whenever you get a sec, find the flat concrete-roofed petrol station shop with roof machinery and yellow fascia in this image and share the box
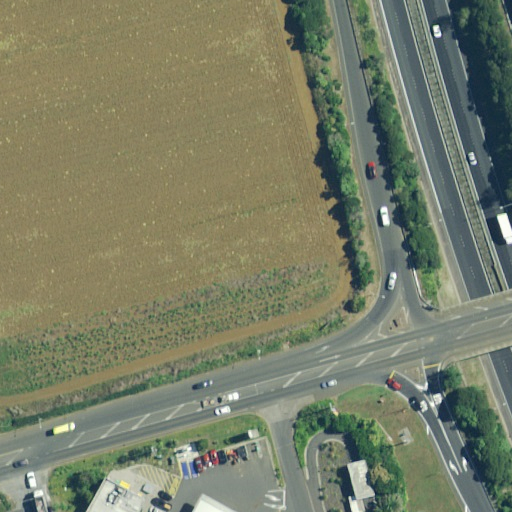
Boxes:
[86,478,144,512]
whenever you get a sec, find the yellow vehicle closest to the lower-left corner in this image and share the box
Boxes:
[52,421,76,435]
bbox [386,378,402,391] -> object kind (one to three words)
vehicle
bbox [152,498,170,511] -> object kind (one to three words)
vehicle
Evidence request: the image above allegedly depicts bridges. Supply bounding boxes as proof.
[438,290,512,364]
